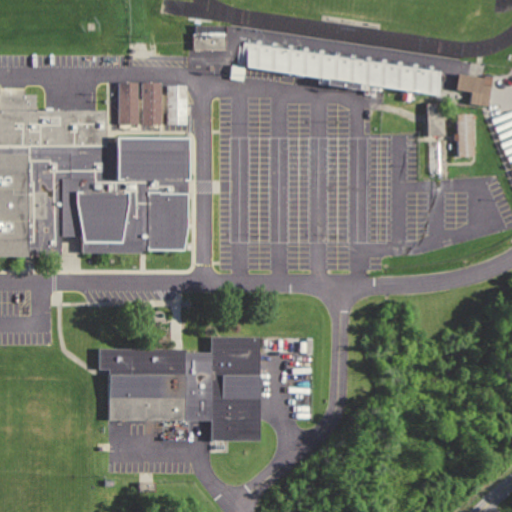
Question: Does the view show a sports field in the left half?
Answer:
Yes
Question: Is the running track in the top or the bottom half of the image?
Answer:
top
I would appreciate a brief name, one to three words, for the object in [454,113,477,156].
shed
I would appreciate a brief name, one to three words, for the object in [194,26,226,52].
building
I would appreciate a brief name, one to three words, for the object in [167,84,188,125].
building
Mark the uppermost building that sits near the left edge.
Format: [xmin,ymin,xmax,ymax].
[0,87,190,258]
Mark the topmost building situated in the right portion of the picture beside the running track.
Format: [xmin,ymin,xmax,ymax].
[458,74,493,106]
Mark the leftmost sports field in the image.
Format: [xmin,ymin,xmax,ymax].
[0,345,142,512]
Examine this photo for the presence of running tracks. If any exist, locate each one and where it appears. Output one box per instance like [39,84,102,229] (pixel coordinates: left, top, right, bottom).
[161,0,512,58]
